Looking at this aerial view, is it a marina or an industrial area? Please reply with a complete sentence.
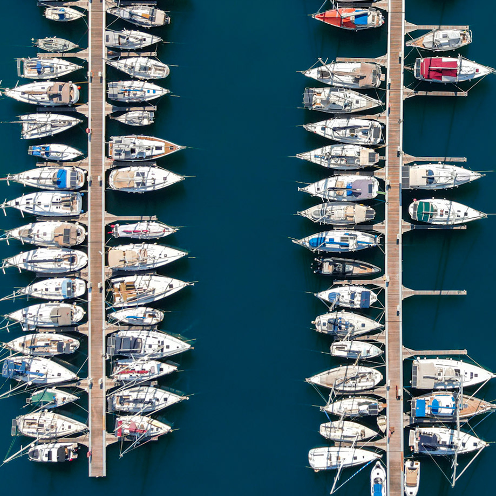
This image shows a marina.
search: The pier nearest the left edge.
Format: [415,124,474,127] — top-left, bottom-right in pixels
[35,0,159,477]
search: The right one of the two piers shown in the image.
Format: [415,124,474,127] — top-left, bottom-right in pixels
[332,0,469,496]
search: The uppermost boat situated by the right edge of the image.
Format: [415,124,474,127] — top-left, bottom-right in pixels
[404,28,481,53]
